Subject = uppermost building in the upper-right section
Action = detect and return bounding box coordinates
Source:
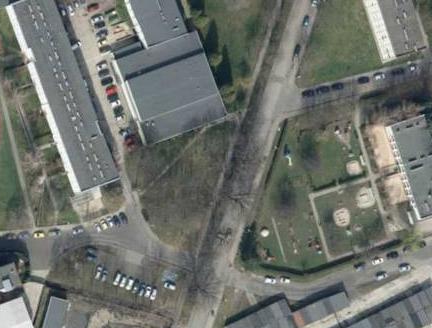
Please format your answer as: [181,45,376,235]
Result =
[365,0,427,61]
